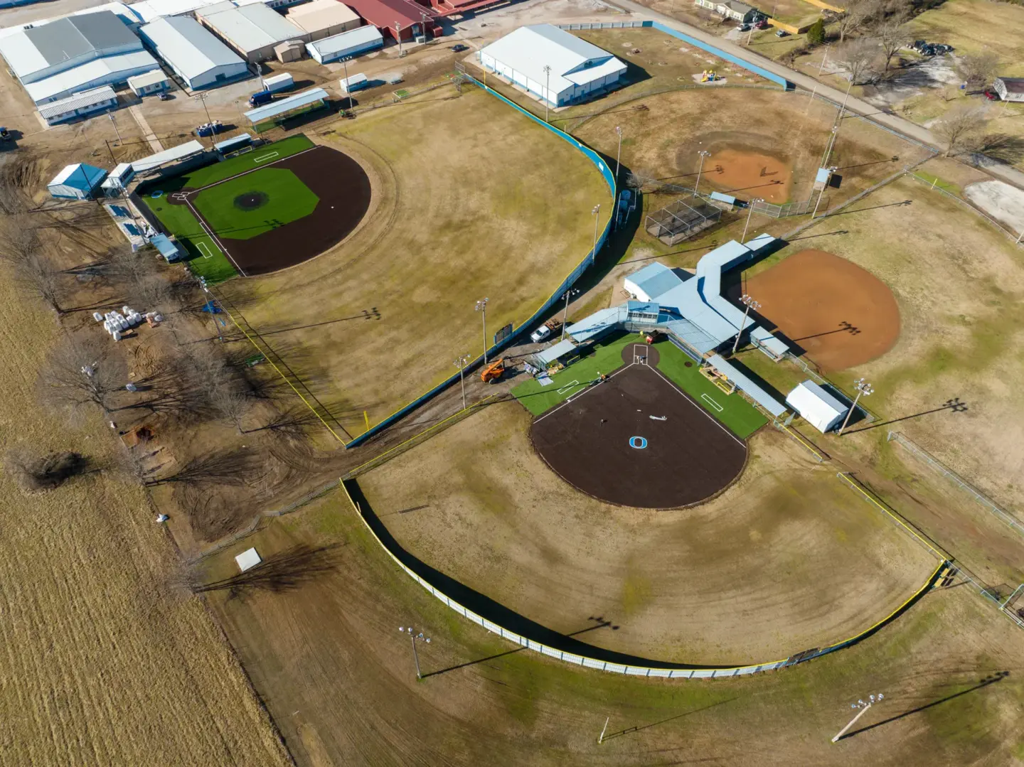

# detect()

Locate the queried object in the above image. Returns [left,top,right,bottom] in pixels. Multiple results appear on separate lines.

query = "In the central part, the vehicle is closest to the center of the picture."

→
[479,356,515,384]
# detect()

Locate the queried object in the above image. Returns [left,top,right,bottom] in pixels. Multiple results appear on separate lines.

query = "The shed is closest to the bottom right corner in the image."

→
[786,378,850,433]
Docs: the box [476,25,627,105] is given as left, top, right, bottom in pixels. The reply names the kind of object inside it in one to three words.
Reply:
building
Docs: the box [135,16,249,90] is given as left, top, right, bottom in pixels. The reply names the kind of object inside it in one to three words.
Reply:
building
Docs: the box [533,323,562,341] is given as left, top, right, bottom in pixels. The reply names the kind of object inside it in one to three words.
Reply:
vehicle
